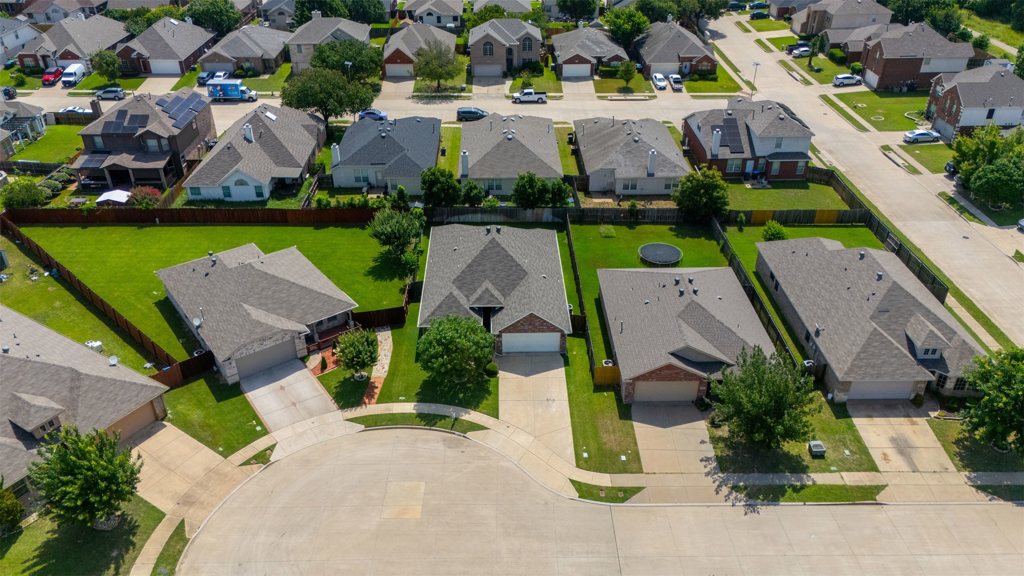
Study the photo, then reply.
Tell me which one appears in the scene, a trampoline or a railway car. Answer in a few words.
trampoline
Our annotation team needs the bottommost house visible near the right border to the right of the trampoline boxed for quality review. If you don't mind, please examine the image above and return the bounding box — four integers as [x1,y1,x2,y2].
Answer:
[755,240,1000,404]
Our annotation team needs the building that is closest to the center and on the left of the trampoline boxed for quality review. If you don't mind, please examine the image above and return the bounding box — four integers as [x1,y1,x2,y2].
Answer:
[417,219,572,359]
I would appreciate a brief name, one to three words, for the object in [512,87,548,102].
vehicle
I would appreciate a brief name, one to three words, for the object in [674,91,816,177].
house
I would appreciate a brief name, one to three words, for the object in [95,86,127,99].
vehicle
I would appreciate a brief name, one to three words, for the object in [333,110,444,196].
house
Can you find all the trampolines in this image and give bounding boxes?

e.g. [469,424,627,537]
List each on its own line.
[638,243,683,271]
